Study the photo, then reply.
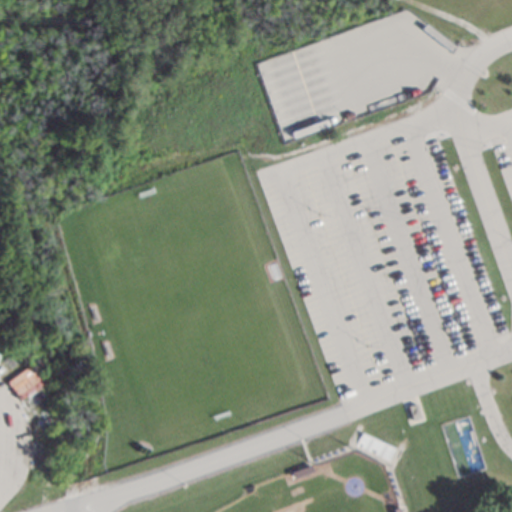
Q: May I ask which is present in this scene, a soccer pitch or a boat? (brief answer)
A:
soccer pitch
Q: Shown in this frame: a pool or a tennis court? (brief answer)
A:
pool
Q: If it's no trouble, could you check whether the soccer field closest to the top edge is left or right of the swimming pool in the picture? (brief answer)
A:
left of it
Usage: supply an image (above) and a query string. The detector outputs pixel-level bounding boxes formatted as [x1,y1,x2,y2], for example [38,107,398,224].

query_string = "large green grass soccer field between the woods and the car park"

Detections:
[60,152,326,470]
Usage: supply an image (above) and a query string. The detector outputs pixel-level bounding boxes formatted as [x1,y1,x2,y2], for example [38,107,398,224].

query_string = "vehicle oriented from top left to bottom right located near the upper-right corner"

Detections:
[416,22,456,52]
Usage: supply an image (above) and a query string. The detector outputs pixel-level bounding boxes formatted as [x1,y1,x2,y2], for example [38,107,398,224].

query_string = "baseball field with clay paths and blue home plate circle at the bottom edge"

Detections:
[211,452,399,512]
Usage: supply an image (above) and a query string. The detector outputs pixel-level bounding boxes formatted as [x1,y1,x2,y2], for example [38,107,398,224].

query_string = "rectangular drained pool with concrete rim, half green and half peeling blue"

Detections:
[442,415,487,478]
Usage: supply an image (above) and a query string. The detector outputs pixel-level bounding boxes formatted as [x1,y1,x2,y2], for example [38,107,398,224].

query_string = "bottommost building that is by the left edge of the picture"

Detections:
[8,368,44,402]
